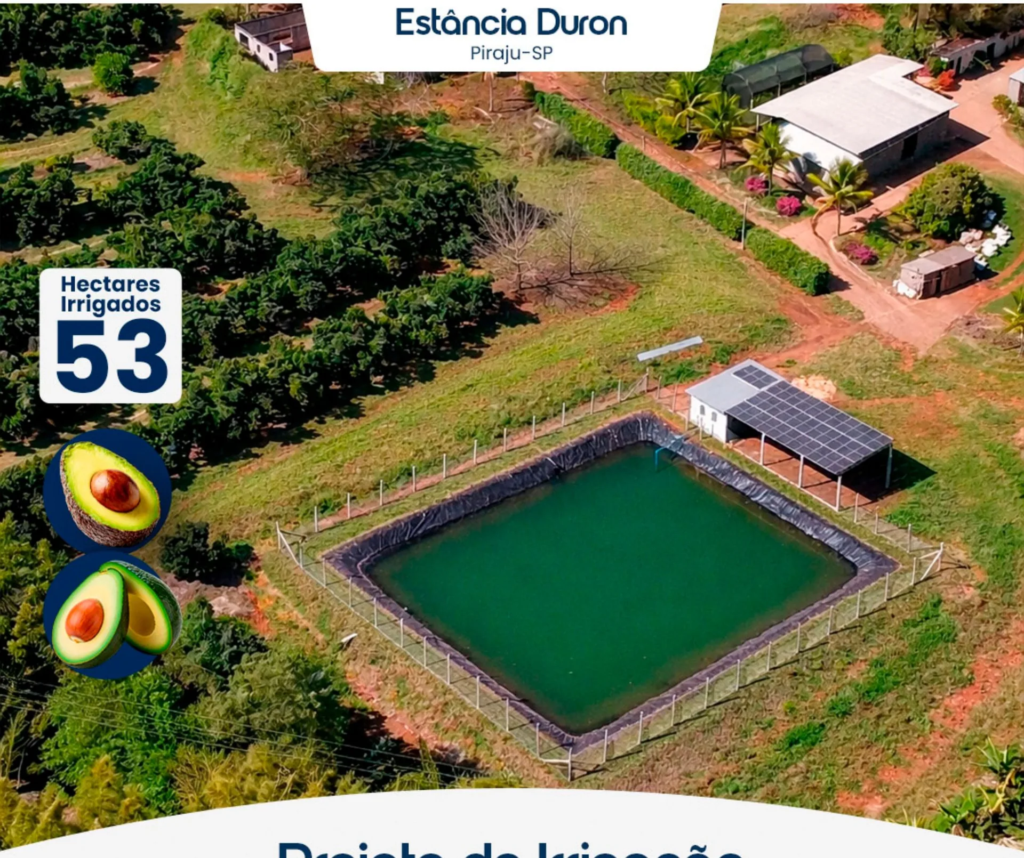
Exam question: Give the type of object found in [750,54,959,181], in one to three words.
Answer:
house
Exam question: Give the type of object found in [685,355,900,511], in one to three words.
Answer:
shed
